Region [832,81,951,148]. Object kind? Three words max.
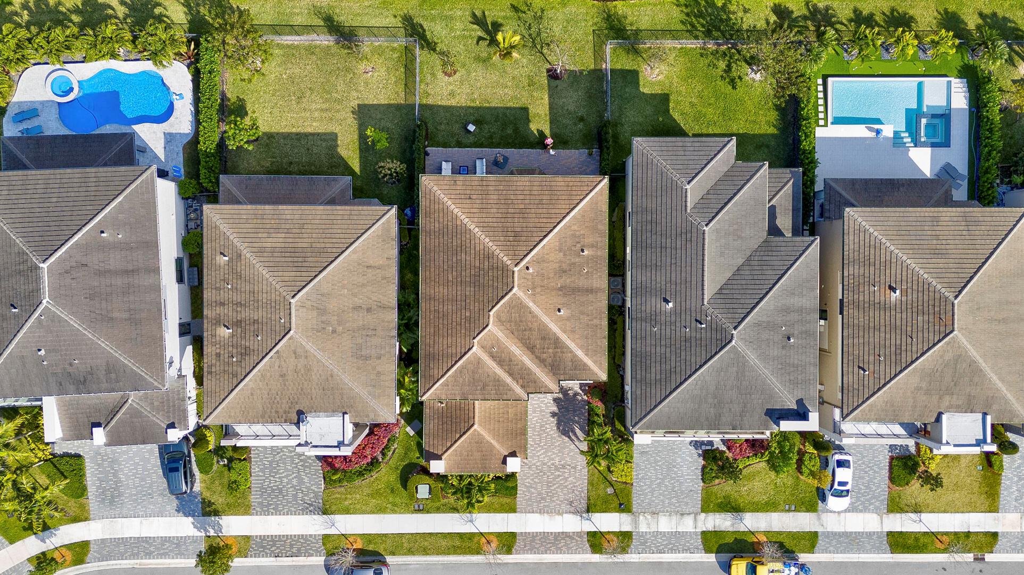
swimming pool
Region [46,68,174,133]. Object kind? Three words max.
swimming pool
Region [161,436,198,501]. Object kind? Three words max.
car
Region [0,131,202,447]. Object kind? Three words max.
house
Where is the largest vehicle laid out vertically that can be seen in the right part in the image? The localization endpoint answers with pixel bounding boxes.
[822,450,854,515]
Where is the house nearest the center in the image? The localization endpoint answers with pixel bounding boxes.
[418,166,610,475]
